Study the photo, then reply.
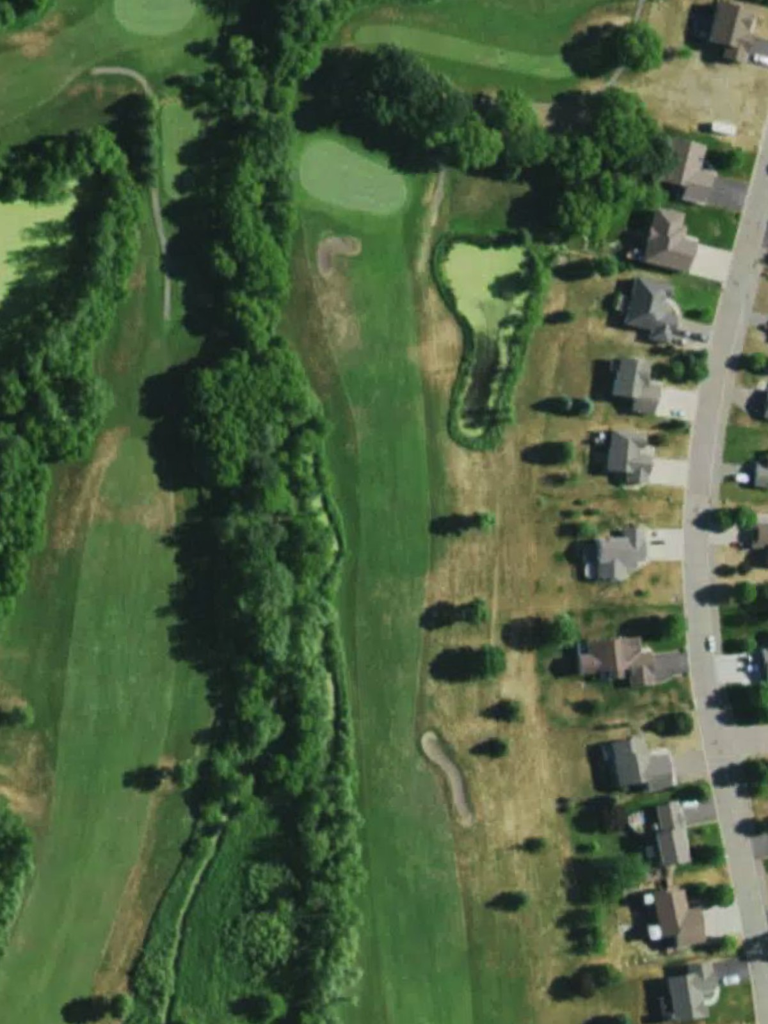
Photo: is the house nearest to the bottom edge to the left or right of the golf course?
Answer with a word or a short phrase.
on its right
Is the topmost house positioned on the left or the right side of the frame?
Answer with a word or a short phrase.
right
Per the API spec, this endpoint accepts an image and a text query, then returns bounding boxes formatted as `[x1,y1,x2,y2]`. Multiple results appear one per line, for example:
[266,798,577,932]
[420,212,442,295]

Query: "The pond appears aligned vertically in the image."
[444,242,536,439]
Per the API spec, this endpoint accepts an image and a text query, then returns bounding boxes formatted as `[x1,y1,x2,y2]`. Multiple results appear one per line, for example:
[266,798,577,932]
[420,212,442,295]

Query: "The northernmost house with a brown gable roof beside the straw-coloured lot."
[711,0,766,61]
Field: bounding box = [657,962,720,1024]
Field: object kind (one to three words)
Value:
house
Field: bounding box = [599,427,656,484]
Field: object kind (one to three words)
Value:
house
